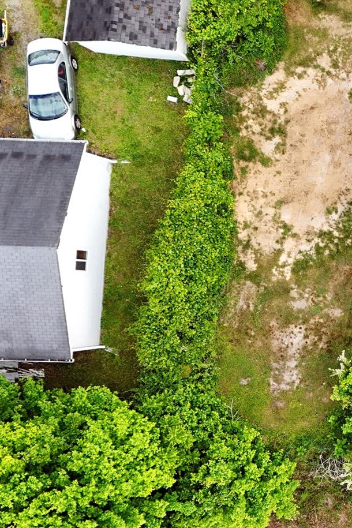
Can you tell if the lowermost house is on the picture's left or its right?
left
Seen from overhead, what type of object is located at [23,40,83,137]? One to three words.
car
